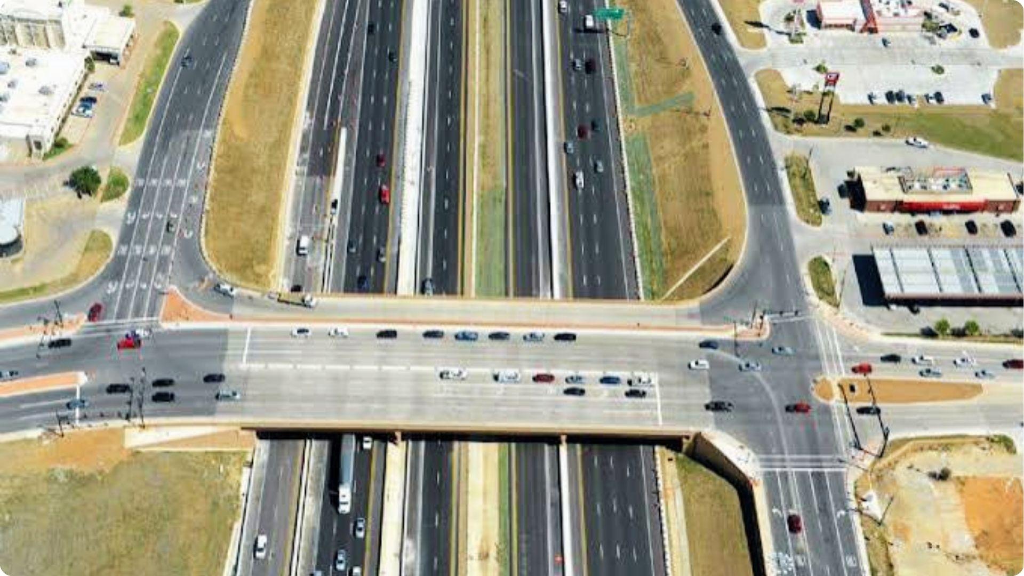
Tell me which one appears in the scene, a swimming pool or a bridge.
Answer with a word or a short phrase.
bridge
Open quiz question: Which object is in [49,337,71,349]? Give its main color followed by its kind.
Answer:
black vehicle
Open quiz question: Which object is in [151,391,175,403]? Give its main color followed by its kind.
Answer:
black vehicle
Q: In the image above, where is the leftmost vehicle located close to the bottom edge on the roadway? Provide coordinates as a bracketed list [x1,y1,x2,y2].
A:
[254,536,266,558]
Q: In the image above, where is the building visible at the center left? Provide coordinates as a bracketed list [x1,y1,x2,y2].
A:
[0,198,30,260]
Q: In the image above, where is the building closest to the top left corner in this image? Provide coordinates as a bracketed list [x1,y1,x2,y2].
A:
[0,0,137,164]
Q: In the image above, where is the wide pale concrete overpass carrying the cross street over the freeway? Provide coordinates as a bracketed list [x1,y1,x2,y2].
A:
[142,289,714,455]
